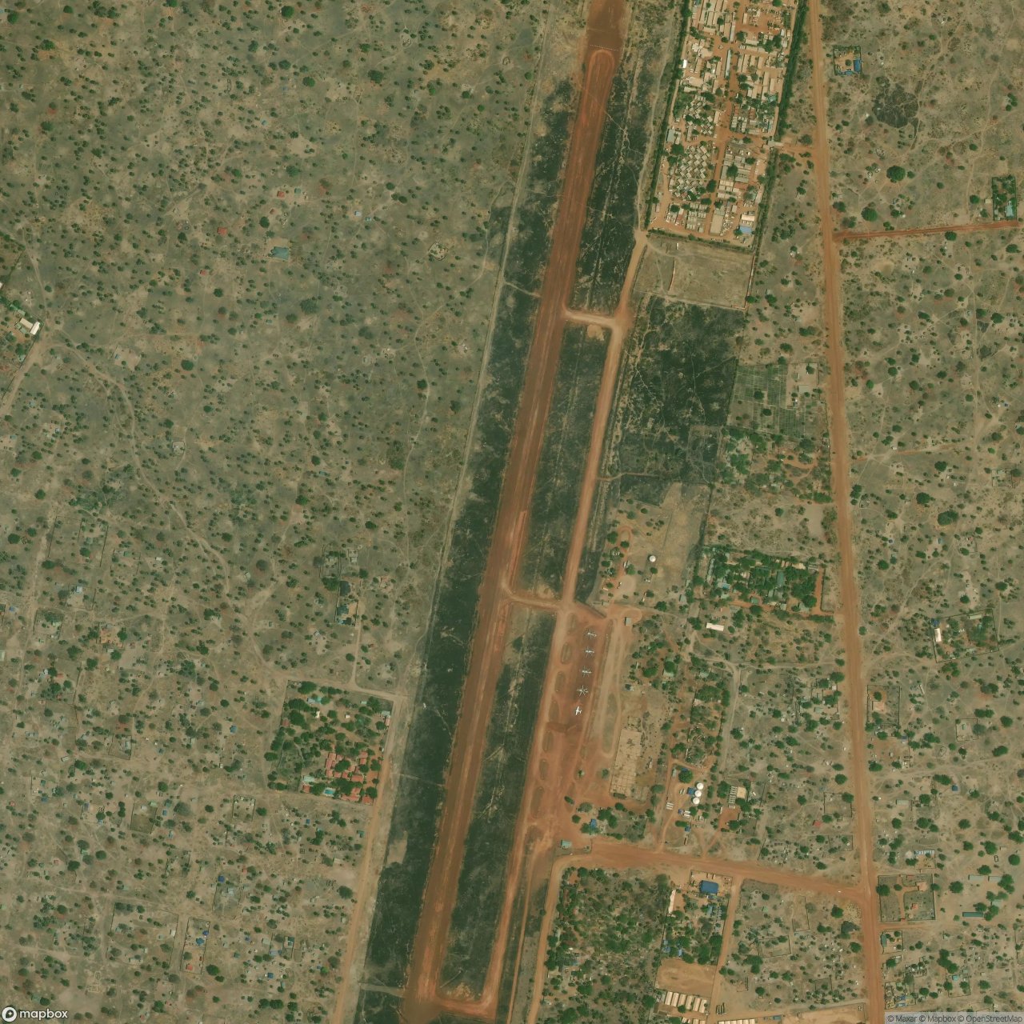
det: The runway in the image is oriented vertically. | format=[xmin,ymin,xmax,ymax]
[401,0,622,1024]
